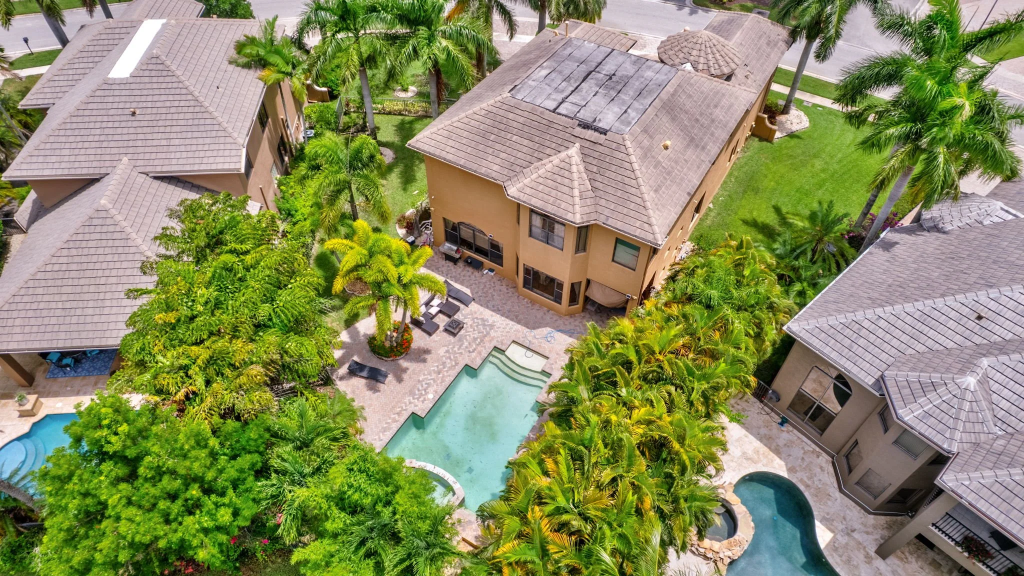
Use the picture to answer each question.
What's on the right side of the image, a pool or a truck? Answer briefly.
pool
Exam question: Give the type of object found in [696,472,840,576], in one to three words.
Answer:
swimming pool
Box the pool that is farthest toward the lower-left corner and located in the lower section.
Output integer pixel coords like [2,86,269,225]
[0,413,164,524]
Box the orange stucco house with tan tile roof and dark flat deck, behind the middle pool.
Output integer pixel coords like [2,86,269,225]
[403,7,795,330]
